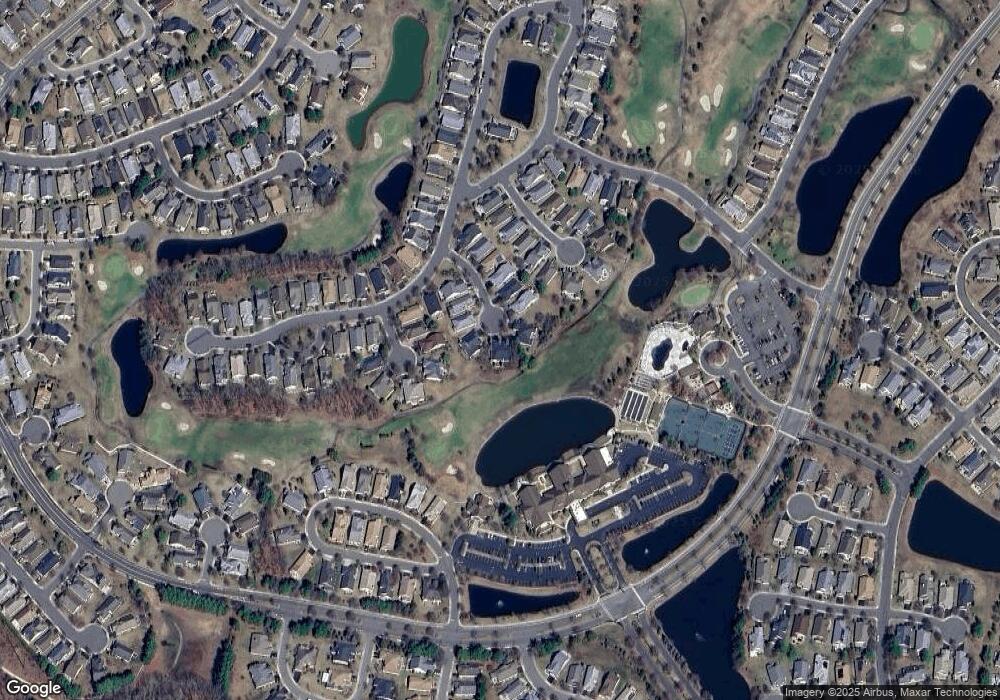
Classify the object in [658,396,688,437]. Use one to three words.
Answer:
tennis court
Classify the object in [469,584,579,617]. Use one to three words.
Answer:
pond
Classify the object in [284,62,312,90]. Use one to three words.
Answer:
house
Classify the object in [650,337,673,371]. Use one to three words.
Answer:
swimming pool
